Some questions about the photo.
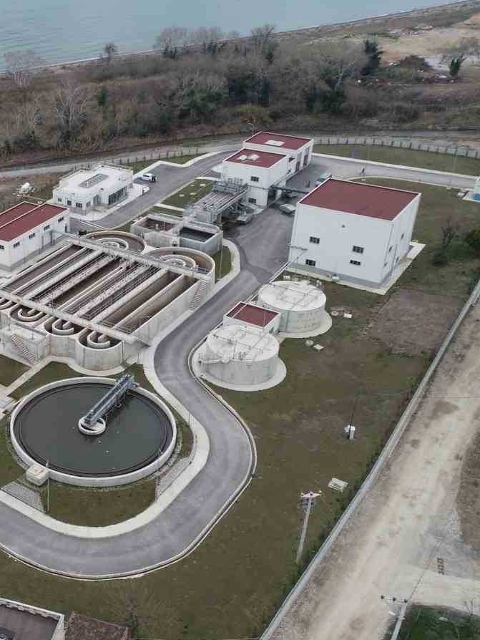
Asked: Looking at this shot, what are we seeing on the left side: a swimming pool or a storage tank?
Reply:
storage tank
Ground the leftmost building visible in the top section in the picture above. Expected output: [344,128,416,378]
[0,203,68,265]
